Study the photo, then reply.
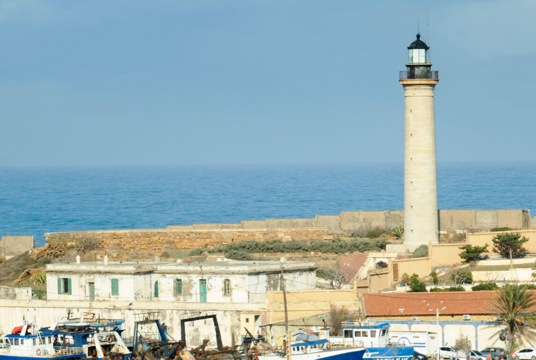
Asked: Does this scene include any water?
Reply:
Yes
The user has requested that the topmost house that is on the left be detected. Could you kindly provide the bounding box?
[43,256,332,302]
